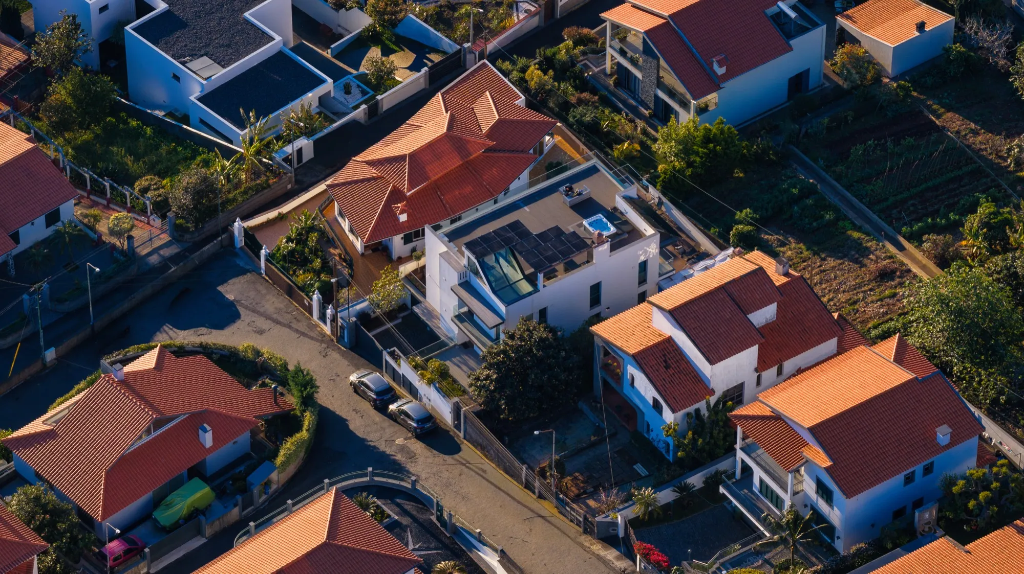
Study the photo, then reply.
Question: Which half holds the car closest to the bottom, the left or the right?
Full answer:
It is on the left.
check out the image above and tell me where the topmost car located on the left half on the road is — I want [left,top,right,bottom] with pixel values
[350,371,395,408]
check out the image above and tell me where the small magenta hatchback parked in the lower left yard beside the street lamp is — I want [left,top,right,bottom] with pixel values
[101,535,146,567]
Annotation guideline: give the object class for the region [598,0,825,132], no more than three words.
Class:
house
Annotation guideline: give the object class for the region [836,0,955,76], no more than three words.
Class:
shed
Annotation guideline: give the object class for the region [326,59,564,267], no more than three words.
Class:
house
